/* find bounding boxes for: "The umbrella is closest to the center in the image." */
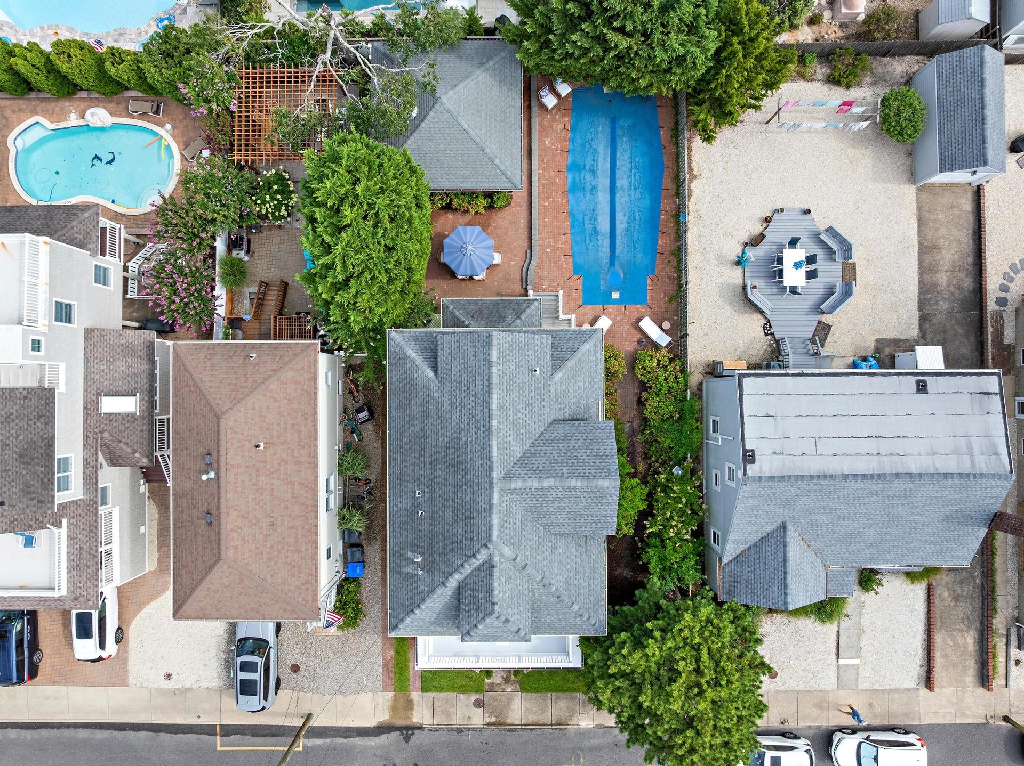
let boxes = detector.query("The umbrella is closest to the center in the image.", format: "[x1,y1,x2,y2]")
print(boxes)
[445,227,492,274]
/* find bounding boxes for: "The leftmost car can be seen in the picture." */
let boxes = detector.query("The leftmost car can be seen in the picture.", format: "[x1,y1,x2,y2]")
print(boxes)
[0,610,41,691]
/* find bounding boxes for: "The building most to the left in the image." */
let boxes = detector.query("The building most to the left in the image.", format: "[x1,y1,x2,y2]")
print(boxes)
[0,204,175,610]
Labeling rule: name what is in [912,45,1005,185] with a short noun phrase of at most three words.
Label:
shed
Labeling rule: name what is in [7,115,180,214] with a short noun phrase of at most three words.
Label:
swimming pool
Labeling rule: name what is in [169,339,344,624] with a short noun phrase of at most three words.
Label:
house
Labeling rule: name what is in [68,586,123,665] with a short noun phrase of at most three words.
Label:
car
